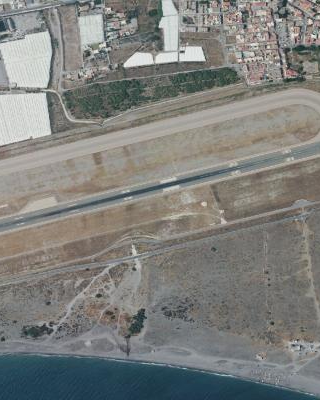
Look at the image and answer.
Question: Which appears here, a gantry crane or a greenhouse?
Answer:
greenhouse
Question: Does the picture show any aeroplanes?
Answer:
No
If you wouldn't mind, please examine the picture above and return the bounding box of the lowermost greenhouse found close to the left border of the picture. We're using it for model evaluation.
[0,93,51,145]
